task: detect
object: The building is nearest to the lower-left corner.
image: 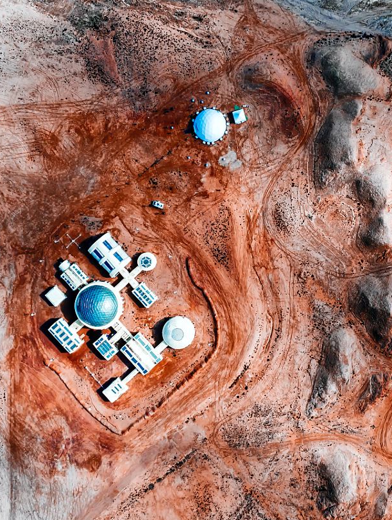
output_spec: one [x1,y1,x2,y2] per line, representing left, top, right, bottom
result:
[102,376,128,403]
